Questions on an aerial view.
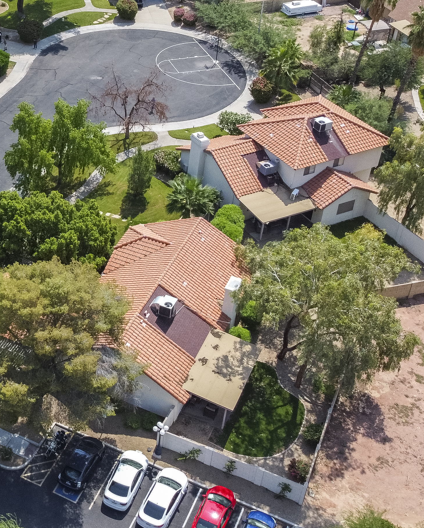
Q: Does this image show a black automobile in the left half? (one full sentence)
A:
Yes, a black automobile shows up in the left half.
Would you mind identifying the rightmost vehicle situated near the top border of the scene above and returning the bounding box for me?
[284,2,322,16]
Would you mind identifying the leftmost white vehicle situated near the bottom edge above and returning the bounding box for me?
[102,446,150,511]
